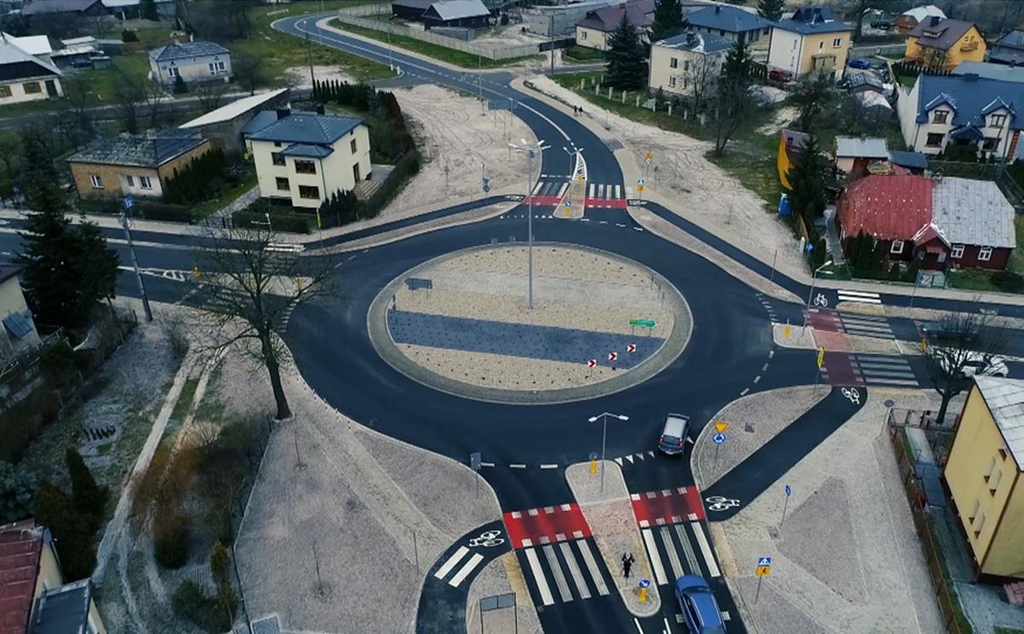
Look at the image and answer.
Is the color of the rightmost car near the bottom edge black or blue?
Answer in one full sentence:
In this view, the rightmost car near the bottom edge is blue.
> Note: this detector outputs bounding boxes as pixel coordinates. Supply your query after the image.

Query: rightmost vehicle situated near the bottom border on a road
[674,574,732,634]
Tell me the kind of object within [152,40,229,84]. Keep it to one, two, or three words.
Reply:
house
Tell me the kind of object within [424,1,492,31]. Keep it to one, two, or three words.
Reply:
barn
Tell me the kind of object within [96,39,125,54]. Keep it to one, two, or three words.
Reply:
shed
